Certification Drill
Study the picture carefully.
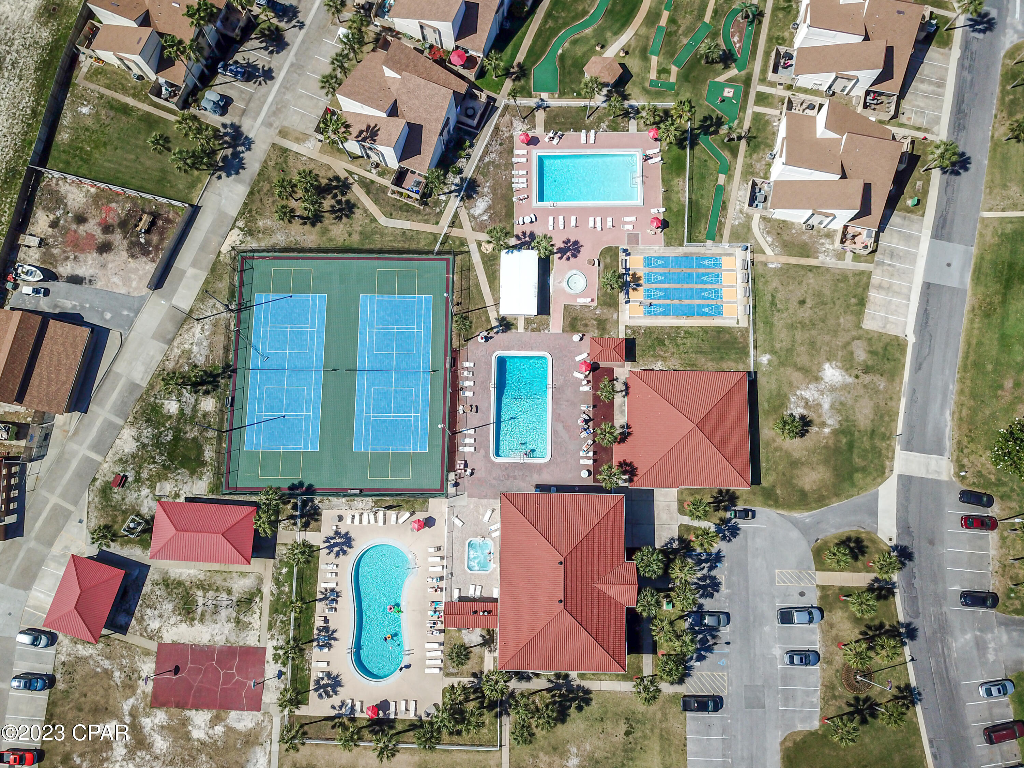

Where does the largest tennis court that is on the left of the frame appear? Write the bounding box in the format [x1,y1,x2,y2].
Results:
[222,255,453,498]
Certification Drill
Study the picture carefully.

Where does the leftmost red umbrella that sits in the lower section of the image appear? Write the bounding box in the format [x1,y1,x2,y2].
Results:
[365,703,380,718]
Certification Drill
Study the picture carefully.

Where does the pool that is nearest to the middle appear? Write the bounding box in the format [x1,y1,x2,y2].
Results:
[490,351,553,463]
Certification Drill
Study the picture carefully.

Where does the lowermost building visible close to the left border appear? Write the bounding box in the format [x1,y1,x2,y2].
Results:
[42,554,131,644]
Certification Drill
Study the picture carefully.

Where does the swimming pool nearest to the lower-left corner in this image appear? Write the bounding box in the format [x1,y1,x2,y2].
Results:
[348,538,415,685]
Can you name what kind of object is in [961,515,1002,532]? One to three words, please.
car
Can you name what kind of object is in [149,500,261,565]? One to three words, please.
building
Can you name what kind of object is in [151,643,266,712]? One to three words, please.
basketball court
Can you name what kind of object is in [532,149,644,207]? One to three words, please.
swimming pool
